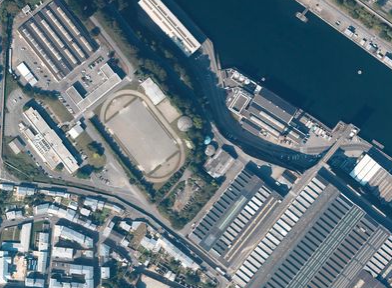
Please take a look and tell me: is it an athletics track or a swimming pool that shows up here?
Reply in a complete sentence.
I can see an athletics track in this picture.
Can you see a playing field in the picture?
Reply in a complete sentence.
Yes, the photo shows a playing field.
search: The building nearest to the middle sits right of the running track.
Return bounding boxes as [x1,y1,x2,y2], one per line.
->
[203,149,233,178]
